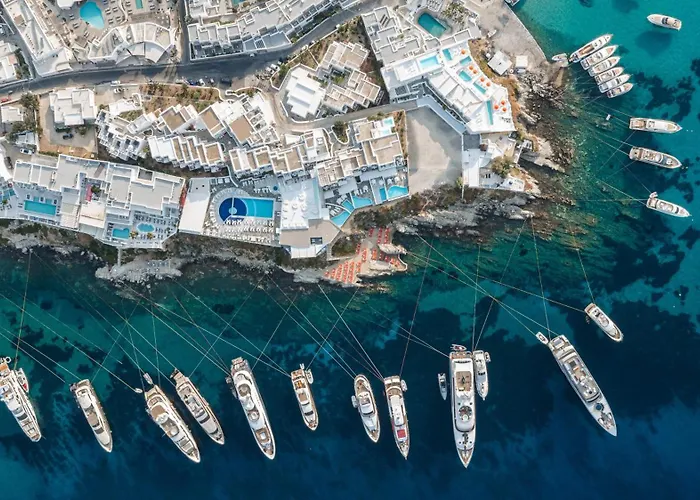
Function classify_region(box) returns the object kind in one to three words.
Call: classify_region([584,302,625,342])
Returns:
boat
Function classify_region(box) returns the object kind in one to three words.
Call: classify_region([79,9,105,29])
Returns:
swimming pool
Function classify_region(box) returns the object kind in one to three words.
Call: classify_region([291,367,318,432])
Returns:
boat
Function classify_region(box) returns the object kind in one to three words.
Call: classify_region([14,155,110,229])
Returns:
building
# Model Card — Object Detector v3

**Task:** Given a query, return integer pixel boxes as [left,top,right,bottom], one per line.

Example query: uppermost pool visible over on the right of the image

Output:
[417,12,447,38]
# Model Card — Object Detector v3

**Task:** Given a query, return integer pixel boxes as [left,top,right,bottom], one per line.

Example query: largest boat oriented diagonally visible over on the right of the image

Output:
[547,331,619,438]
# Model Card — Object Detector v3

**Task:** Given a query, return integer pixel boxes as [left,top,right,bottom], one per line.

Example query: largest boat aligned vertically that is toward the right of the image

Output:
[447,350,476,471]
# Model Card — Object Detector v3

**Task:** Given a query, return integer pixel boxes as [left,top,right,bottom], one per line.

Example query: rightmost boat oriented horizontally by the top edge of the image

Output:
[646,12,684,30]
